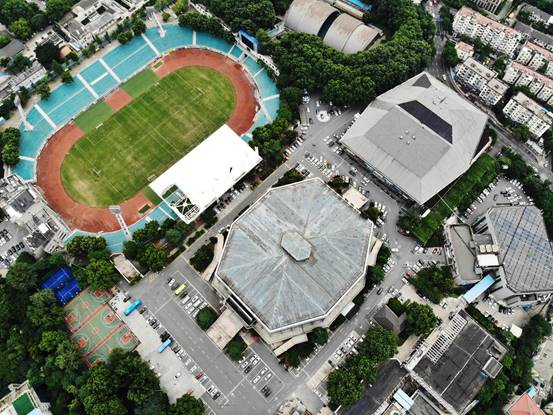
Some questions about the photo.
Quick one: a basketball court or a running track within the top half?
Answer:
running track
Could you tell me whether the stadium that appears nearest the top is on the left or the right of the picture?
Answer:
left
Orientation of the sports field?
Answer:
on a diagonal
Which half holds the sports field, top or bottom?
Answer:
top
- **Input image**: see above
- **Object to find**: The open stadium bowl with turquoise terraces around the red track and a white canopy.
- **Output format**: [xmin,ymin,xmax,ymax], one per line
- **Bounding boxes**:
[19,29,280,251]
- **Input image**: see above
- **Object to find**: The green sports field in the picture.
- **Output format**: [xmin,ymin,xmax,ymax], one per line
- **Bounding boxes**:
[60,67,235,208]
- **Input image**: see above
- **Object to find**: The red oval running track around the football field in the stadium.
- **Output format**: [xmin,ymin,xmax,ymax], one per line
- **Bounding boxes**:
[36,50,258,231]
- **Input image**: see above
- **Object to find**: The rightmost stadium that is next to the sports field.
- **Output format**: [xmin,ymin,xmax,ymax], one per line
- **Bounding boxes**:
[201,177,382,357]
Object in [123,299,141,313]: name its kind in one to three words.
vehicle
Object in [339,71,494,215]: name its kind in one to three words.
building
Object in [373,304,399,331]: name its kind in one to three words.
house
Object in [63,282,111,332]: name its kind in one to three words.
basketball court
